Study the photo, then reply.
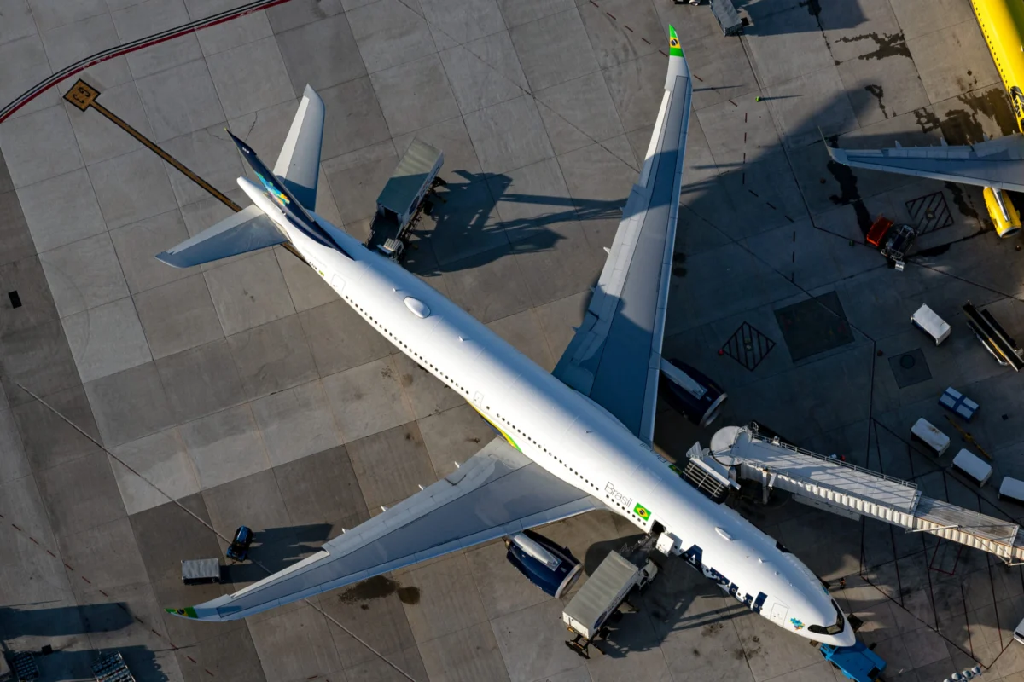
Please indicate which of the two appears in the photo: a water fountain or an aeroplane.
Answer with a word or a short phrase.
aeroplane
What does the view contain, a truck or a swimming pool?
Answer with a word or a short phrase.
truck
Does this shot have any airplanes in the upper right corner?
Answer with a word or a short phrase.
Yes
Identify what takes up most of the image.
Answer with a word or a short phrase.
paved ground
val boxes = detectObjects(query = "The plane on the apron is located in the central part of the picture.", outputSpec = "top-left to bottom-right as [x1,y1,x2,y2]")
[156,18,856,649]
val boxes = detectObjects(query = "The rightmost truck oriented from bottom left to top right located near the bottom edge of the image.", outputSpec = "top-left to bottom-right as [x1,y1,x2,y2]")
[557,528,653,662]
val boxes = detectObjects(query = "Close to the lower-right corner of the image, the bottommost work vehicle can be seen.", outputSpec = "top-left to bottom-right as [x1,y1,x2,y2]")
[816,641,892,682]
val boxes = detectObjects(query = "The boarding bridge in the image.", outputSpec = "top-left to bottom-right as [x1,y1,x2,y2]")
[681,420,1024,565]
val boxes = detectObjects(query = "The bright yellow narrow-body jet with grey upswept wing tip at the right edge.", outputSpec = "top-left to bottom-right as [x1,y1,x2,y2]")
[822,0,1024,237]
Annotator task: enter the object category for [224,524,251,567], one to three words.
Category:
work vehicle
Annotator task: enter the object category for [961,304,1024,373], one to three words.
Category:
work vehicle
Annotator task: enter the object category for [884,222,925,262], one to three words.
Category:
vehicle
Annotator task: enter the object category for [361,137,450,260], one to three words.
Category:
truck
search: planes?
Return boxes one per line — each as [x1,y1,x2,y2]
[822,0,1024,237]
[156,18,856,649]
